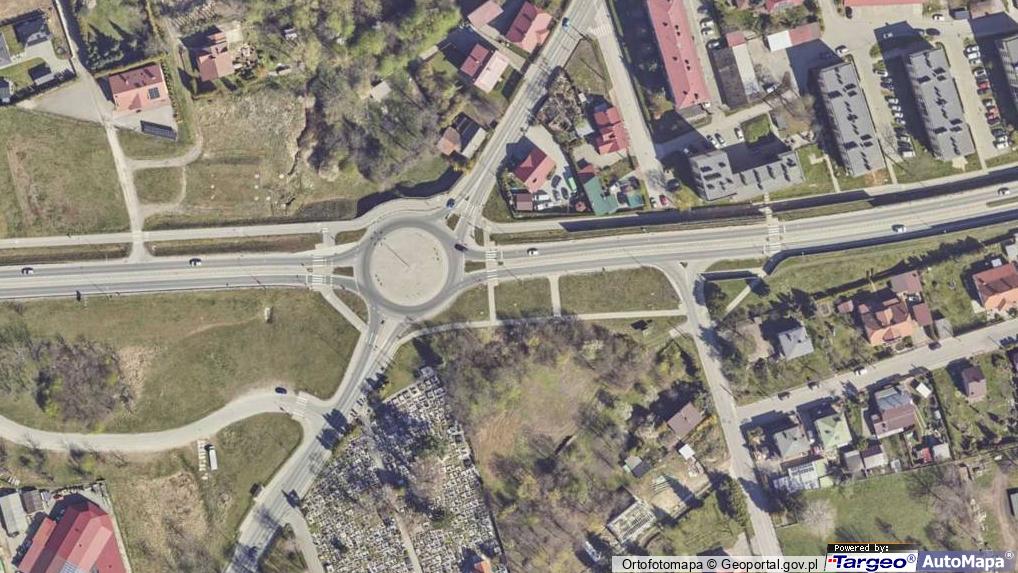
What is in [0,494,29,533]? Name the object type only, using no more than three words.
shed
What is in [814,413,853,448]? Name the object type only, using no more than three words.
house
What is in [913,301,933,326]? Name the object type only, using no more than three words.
building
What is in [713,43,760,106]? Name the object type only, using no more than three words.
barn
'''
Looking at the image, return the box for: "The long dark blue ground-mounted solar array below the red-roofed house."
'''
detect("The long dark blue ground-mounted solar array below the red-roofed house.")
[141,120,176,140]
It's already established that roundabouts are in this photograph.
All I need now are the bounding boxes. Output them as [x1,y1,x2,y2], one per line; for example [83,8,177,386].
[355,213,461,319]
